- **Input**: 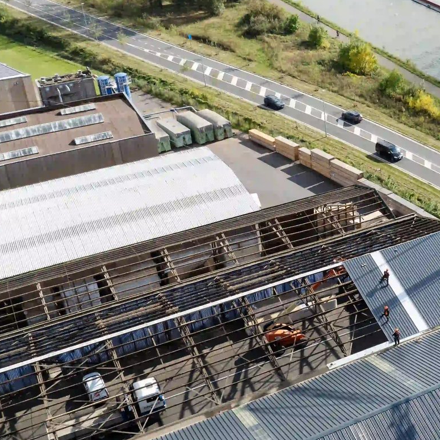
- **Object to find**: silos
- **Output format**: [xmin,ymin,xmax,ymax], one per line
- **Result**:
[100,76,121,95]
[118,71,142,108]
